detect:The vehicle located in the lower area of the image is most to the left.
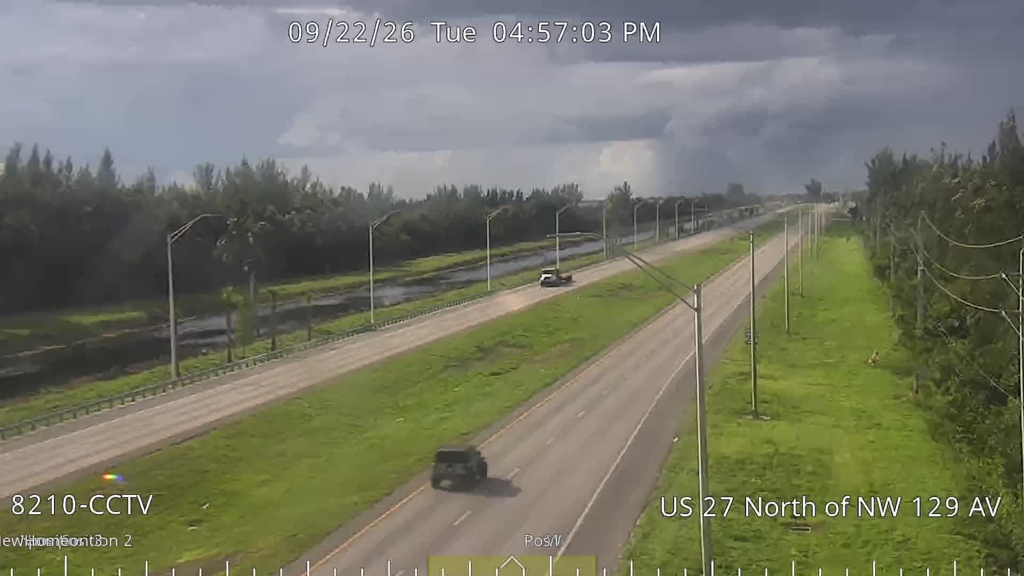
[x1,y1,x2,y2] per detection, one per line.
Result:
[429,443,486,488]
